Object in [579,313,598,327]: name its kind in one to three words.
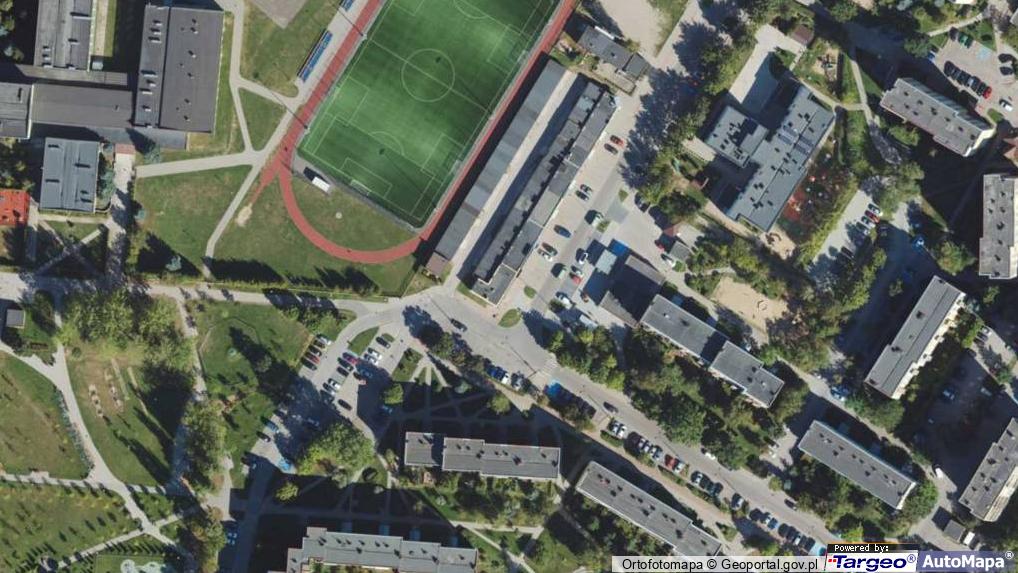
vehicle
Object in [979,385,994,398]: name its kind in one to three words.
vehicle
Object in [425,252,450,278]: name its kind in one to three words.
shed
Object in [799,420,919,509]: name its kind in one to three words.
building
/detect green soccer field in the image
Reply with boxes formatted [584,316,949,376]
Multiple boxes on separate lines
[299,0,561,225]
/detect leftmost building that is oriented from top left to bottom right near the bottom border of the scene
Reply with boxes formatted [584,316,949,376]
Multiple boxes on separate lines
[577,461,728,573]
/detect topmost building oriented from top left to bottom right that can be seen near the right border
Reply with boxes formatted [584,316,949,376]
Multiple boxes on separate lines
[881,76,988,158]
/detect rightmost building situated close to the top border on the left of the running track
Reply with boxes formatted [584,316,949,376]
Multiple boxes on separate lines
[135,5,228,133]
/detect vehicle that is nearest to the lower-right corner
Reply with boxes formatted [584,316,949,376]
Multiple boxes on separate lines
[962,529,976,547]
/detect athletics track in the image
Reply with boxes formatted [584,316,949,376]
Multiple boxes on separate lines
[251,0,578,263]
